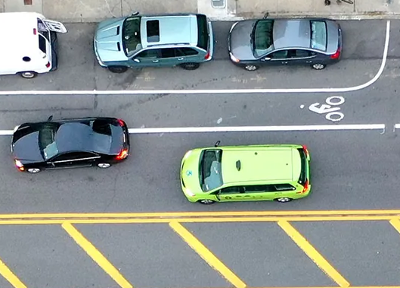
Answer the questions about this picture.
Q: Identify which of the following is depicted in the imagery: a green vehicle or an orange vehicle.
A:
green vehicle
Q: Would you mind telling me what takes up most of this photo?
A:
paved ground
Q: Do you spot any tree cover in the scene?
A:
No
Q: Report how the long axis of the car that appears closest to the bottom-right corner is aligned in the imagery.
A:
horizontally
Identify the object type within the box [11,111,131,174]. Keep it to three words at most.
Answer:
car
